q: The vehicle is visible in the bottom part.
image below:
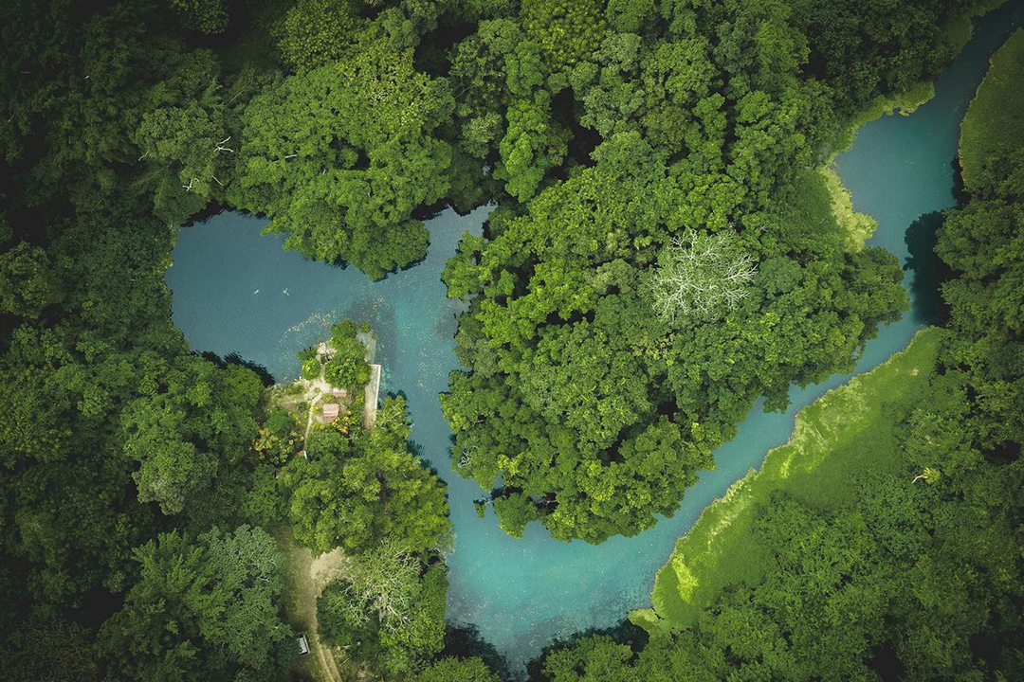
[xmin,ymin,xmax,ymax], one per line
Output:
[296,636,310,657]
